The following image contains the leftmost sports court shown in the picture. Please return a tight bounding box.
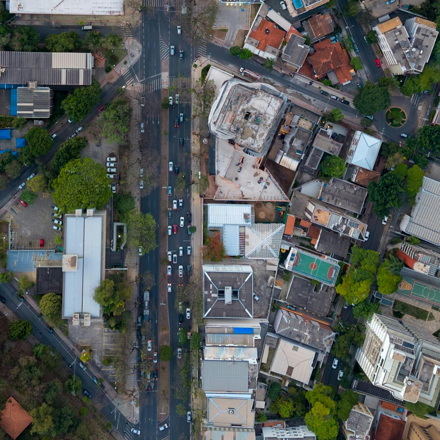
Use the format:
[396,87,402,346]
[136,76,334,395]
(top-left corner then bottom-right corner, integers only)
[292,252,337,284]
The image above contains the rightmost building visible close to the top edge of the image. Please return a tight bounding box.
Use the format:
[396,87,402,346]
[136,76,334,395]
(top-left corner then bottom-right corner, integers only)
[367,16,438,73]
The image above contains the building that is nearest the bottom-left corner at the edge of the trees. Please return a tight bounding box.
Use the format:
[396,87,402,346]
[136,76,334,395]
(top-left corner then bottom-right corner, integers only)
[0,394,35,440]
